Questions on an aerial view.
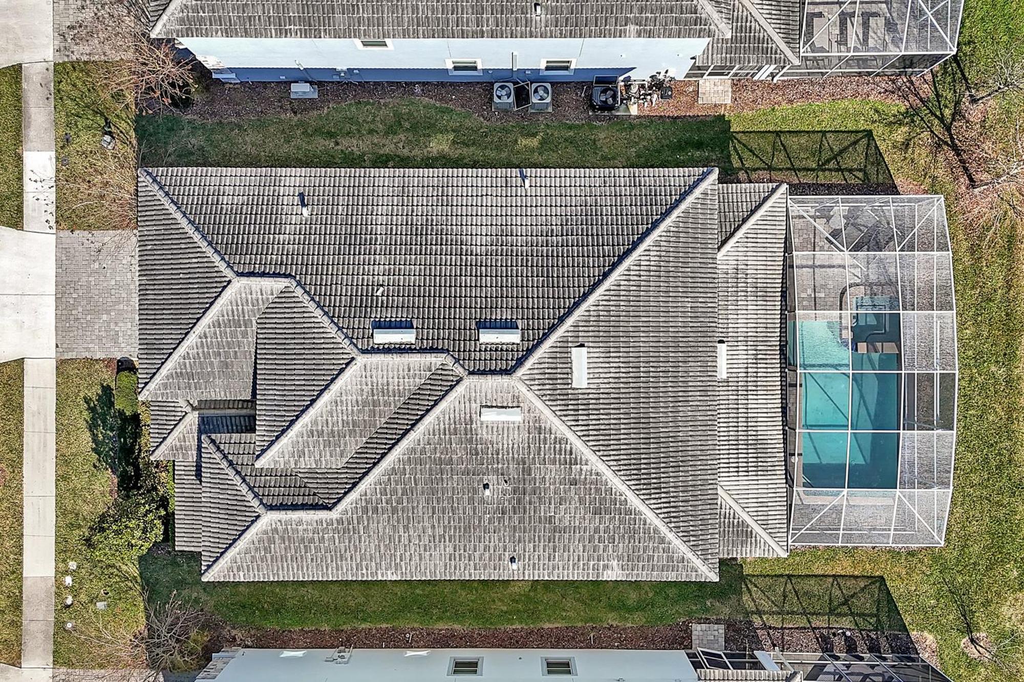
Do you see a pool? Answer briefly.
Yes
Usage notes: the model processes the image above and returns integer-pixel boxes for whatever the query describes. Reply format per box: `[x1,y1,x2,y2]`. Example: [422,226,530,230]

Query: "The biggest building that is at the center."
[135,166,789,584]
